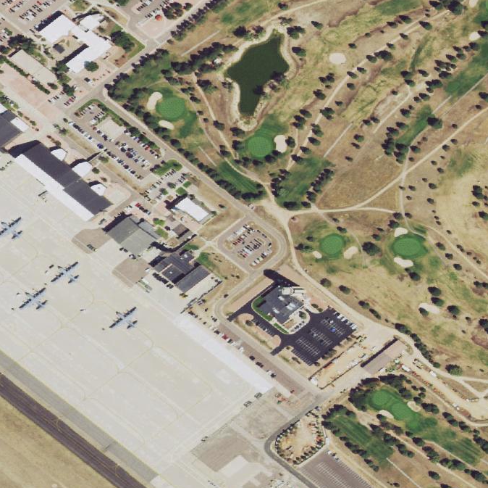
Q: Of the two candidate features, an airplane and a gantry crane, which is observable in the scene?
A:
airplane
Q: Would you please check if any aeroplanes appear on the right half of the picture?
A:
No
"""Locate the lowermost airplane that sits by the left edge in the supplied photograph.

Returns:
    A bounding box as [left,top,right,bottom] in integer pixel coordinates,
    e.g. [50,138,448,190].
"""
[20,289,50,311]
